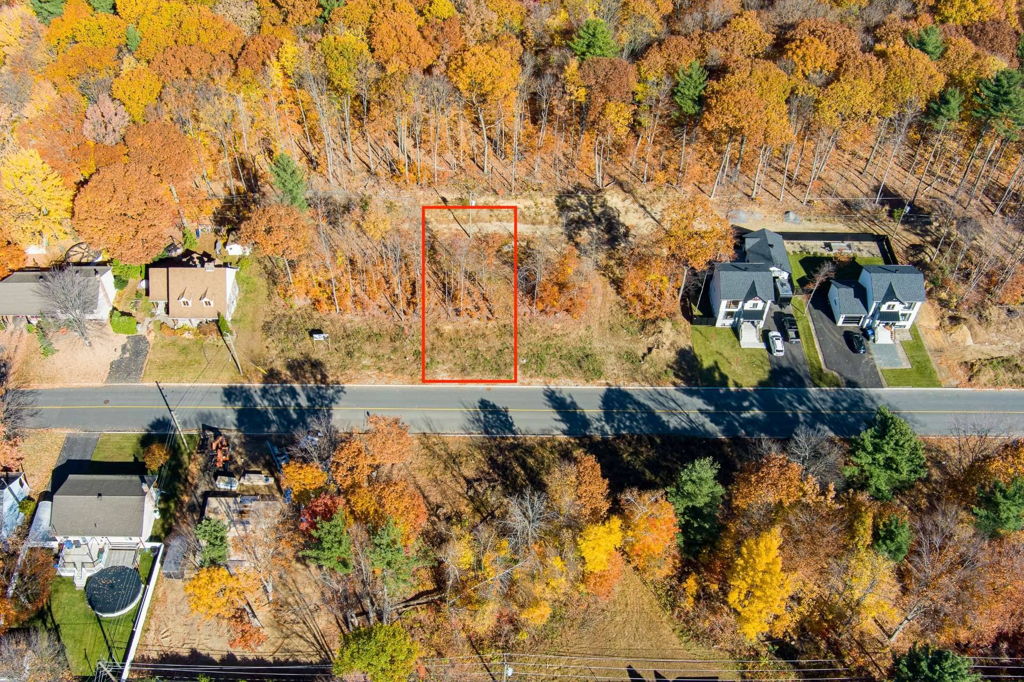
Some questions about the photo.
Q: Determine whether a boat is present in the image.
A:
No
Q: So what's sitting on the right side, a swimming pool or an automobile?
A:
automobile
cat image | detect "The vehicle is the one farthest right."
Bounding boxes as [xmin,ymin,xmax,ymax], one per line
[848,330,867,354]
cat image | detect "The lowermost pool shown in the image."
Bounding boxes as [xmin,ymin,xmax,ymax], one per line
[91,568,148,620]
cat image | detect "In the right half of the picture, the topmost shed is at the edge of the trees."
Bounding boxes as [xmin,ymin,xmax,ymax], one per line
[735,227,792,281]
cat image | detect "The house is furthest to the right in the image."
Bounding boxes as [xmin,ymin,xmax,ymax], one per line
[825,265,926,350]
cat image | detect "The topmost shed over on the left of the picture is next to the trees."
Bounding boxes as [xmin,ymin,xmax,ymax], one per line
[223,228,250,255]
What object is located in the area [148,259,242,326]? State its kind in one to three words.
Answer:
house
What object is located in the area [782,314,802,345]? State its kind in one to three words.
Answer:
vehicle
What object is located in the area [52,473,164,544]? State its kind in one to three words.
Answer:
house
